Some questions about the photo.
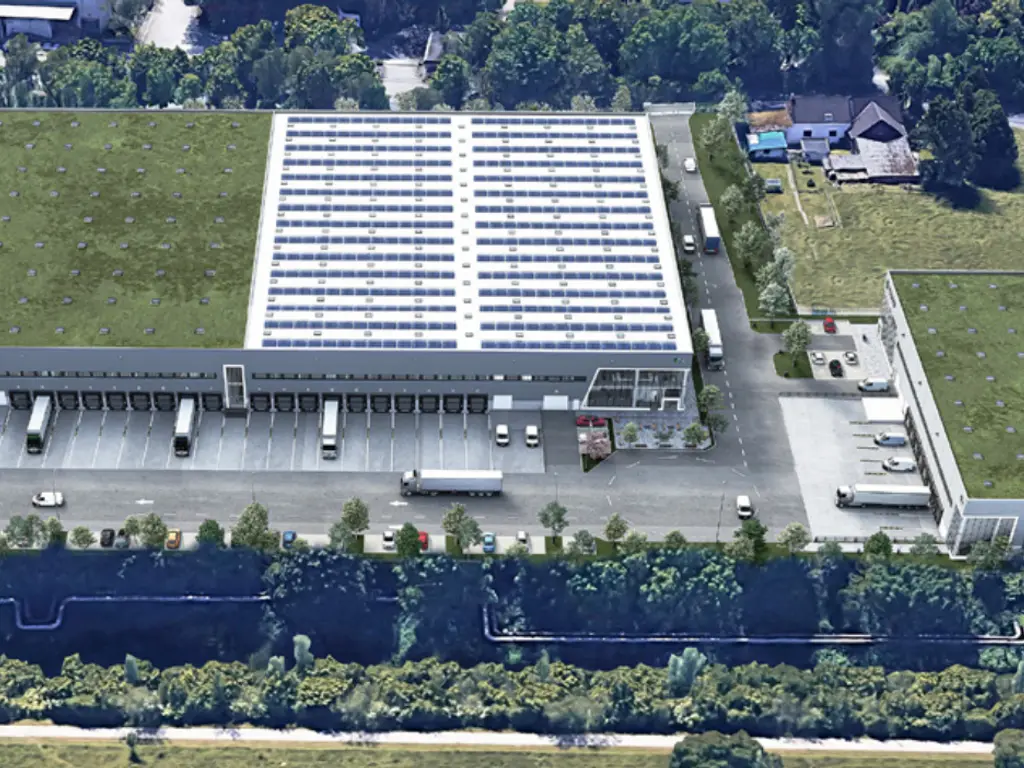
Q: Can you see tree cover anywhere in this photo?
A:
Yes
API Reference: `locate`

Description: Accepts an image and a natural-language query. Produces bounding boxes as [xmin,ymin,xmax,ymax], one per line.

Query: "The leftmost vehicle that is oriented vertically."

[23,398,50,454]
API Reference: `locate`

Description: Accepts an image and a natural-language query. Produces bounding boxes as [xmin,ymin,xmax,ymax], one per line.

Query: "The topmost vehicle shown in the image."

[684,157,696,173]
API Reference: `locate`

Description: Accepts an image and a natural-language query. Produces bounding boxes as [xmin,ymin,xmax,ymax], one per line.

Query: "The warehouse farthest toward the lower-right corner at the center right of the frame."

[878,270,1024,555]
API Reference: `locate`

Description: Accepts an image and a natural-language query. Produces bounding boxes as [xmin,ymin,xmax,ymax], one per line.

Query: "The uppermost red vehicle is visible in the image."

[824,315,837,334]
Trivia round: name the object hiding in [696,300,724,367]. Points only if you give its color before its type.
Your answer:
white truck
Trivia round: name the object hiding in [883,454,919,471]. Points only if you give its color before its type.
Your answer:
white vehicle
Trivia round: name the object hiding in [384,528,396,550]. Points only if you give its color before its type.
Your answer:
white vehicle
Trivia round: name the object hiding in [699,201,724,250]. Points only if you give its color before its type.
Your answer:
white truck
